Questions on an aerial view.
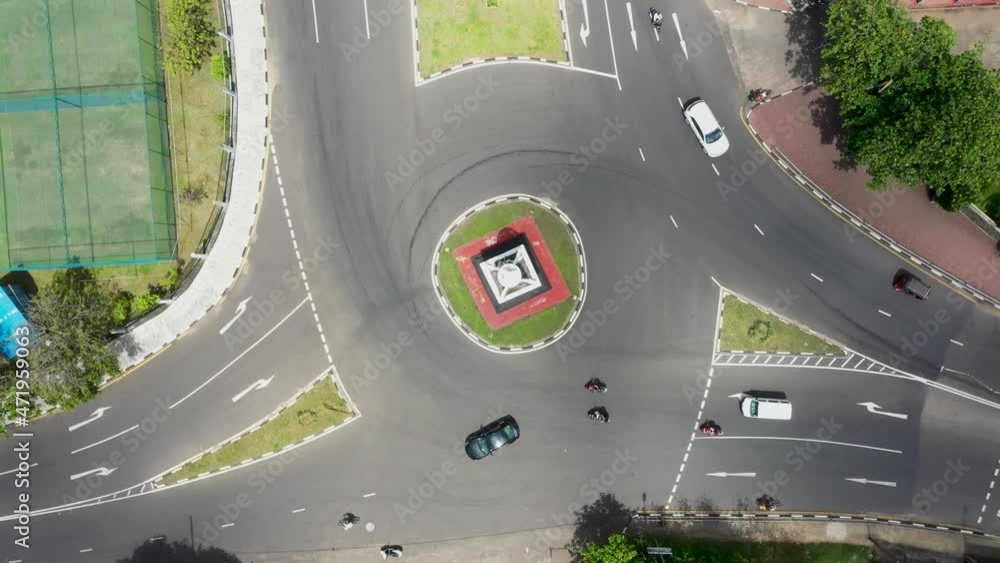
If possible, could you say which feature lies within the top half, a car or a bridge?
car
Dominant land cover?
paved ground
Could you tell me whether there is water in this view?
No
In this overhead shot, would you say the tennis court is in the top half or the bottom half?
top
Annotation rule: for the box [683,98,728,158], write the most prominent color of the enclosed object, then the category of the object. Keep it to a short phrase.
white car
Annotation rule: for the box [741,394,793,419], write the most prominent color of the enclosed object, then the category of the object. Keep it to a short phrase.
white vehicle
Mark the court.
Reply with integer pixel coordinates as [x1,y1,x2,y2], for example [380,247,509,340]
[0,0,177,261]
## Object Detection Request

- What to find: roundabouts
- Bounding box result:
[432,193,588,354]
